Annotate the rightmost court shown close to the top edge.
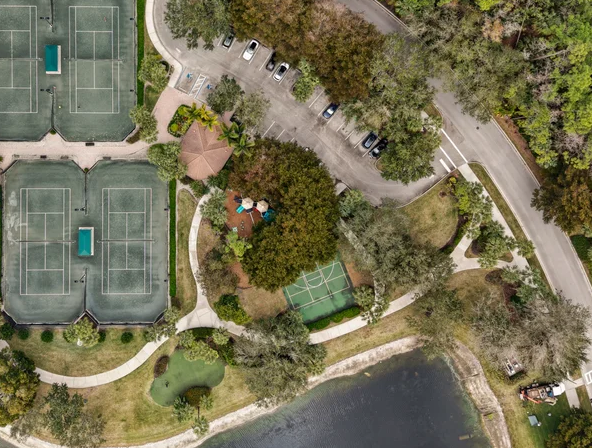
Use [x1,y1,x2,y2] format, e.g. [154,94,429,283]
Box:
[53,0,135,140]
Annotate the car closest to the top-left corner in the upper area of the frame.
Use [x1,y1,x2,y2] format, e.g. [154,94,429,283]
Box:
[221,28,236,48]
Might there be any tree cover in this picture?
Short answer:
Yes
